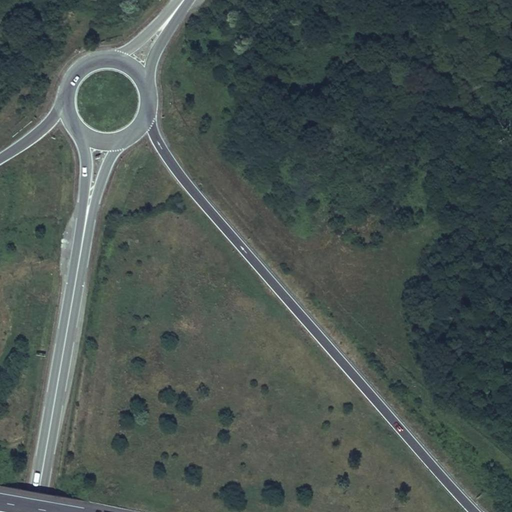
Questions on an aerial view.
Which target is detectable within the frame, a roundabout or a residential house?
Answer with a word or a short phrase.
roundabout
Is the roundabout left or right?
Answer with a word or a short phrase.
left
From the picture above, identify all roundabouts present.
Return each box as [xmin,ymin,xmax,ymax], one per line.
[56,50,158,152]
